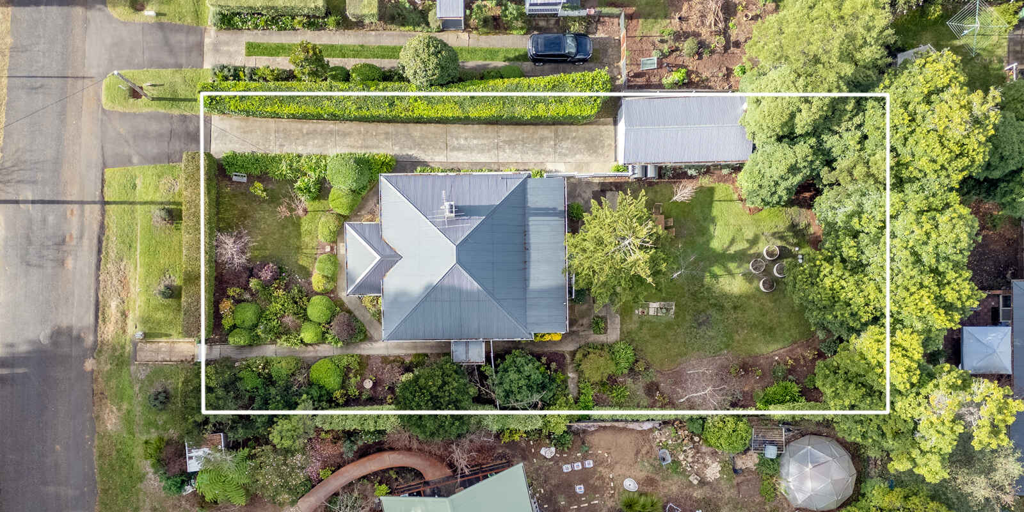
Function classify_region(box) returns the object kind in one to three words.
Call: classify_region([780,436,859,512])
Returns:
greenhouse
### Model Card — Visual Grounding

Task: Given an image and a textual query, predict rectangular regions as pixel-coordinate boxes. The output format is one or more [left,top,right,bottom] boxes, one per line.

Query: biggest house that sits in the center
[344,171,568,364]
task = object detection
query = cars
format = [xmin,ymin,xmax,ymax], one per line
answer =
[529,32,593,67]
